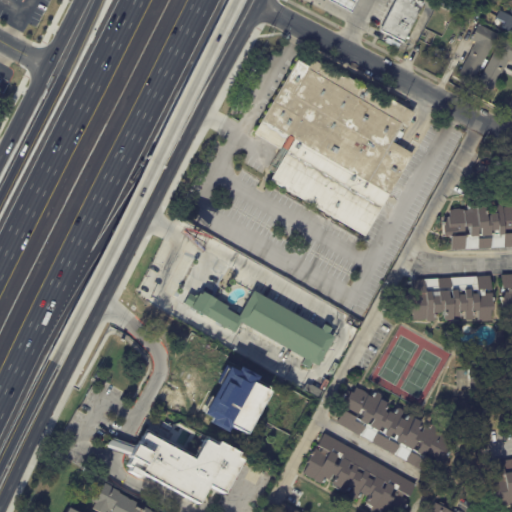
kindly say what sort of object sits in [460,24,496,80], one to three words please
house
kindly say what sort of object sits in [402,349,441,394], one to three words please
tennis court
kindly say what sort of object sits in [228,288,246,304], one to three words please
swimming pool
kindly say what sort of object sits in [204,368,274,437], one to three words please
building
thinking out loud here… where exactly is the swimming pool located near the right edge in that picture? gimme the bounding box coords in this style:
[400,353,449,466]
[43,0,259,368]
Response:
[462,326,496,346]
